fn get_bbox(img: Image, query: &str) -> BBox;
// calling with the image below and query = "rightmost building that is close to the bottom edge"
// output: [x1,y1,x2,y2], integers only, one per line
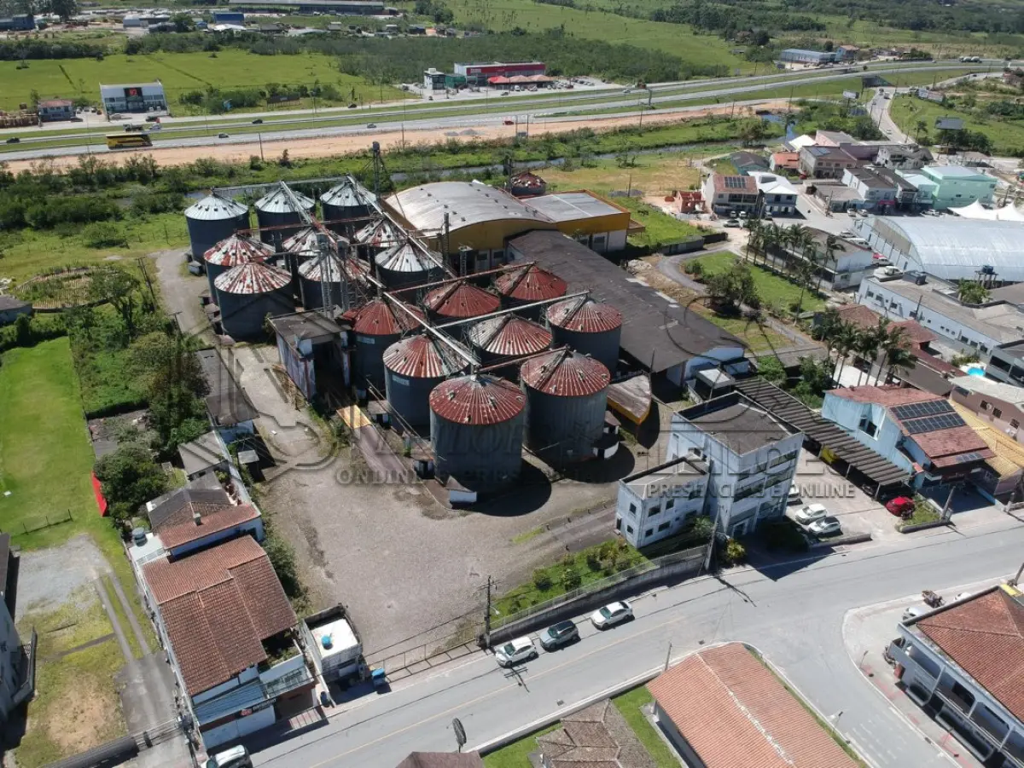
[875,575,1024,768]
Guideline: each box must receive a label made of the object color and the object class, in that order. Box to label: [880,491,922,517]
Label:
red car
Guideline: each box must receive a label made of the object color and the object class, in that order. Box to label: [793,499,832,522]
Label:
white car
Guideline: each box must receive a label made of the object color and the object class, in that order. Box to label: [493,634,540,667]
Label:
white car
